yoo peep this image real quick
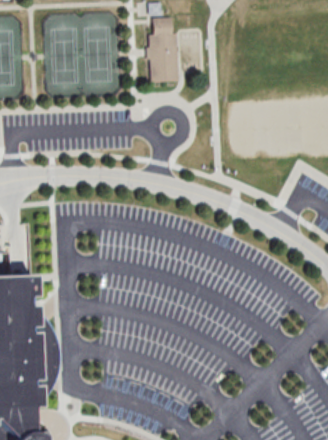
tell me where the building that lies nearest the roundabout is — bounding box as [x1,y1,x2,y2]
[146,18,179,83]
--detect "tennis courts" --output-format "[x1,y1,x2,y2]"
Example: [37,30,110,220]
[80,12,118,94]
[44,14,82,94]
[0,14,22,98]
